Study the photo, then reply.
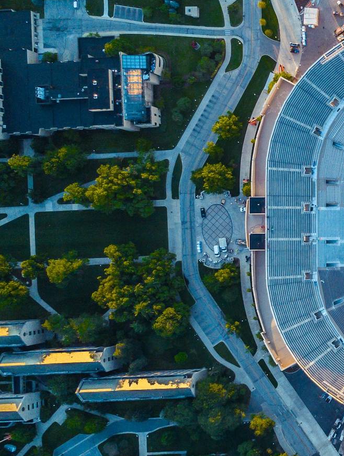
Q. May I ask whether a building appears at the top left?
Yes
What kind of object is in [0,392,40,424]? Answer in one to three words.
building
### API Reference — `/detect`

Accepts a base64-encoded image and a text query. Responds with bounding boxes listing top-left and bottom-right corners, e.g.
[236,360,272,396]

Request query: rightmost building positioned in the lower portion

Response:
[75,372,205,404]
